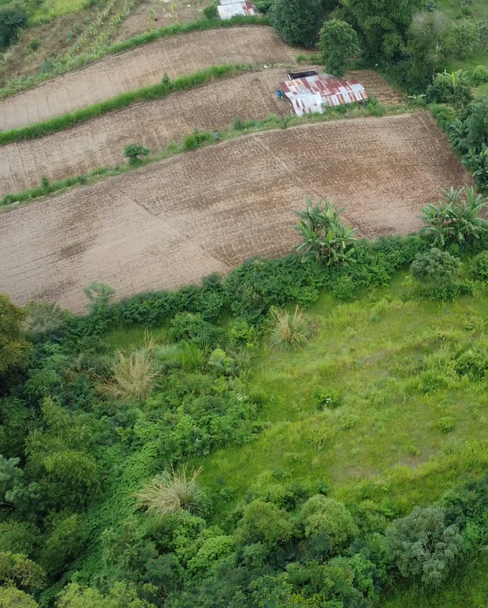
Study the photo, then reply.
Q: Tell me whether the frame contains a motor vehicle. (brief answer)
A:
No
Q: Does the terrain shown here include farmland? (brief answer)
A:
Yes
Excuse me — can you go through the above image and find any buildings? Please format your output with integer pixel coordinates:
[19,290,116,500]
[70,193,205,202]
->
[280,77,369,118]
[217,0,255,19]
